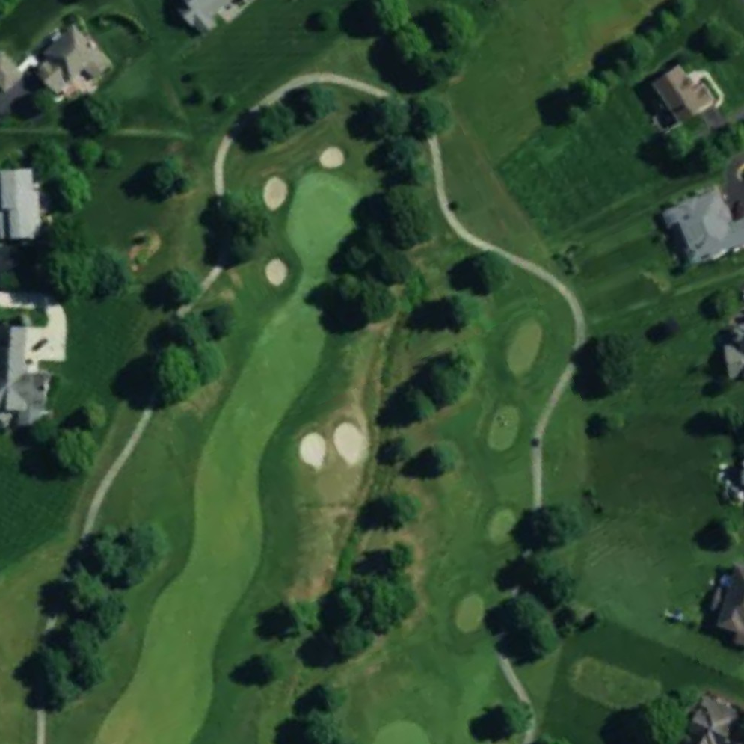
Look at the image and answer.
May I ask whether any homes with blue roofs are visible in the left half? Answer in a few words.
No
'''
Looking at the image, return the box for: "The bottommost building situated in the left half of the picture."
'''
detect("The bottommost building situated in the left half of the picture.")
[0,326,53,420]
